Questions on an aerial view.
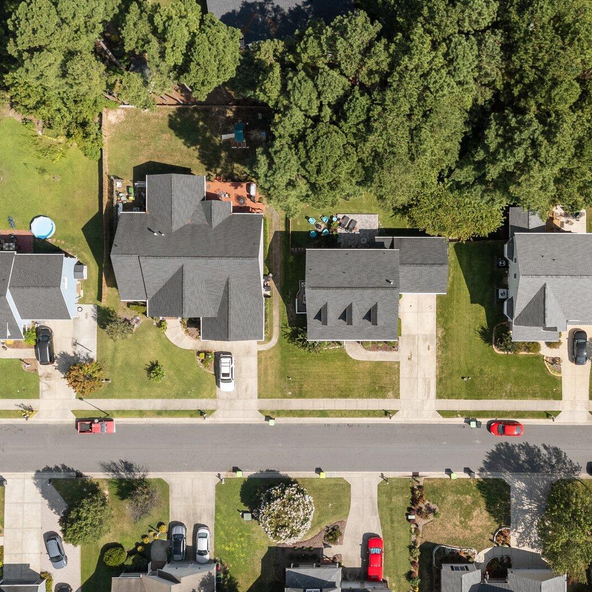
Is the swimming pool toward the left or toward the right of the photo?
left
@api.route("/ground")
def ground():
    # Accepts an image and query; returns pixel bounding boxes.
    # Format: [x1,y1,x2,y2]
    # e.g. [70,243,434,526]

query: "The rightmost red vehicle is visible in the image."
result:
[489,420,523,437]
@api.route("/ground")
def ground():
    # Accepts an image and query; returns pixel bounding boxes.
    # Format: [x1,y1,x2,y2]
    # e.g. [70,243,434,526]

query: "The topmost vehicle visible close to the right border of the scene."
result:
[572,331,589,365]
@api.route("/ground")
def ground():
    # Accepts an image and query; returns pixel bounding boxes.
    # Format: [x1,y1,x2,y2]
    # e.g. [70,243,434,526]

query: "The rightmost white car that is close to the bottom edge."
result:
[194,526,211,563]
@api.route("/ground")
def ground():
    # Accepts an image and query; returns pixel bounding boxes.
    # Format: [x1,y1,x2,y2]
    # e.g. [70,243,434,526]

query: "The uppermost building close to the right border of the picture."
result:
[505,206,592,342]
